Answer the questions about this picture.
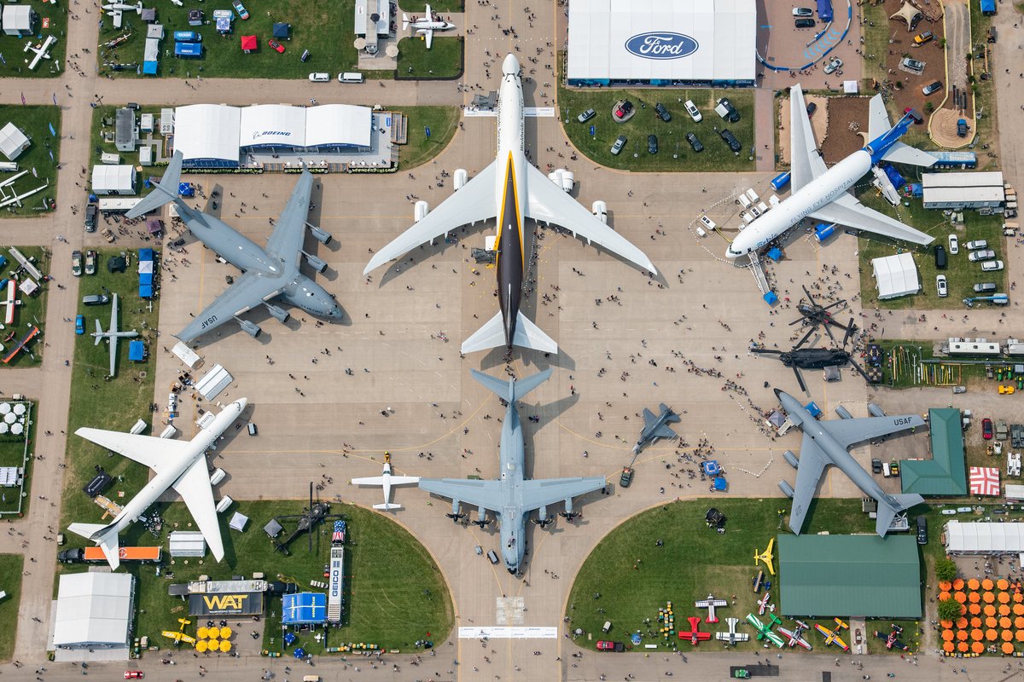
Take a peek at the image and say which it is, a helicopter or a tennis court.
helicopter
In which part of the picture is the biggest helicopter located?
right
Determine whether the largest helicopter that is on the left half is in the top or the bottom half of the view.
bottom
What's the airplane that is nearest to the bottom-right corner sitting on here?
grass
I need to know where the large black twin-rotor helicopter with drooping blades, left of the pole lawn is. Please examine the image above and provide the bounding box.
[751,318,873,392]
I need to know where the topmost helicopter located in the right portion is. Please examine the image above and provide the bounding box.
[793,288,858,337]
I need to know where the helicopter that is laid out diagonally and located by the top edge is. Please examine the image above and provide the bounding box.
[100,30,132,51]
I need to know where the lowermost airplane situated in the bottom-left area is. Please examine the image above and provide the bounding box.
[161,618,197,646]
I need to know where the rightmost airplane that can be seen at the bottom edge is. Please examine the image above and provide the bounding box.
[873,623,909,650]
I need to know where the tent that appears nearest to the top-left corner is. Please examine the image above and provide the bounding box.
[2,5,34,35]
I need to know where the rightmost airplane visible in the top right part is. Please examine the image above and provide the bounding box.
[726,79,939,255]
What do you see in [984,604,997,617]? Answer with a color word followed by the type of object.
orange umbrella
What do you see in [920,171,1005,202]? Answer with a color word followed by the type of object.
white trailer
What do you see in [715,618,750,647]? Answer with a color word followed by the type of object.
white airplane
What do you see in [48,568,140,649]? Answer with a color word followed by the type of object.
white tent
